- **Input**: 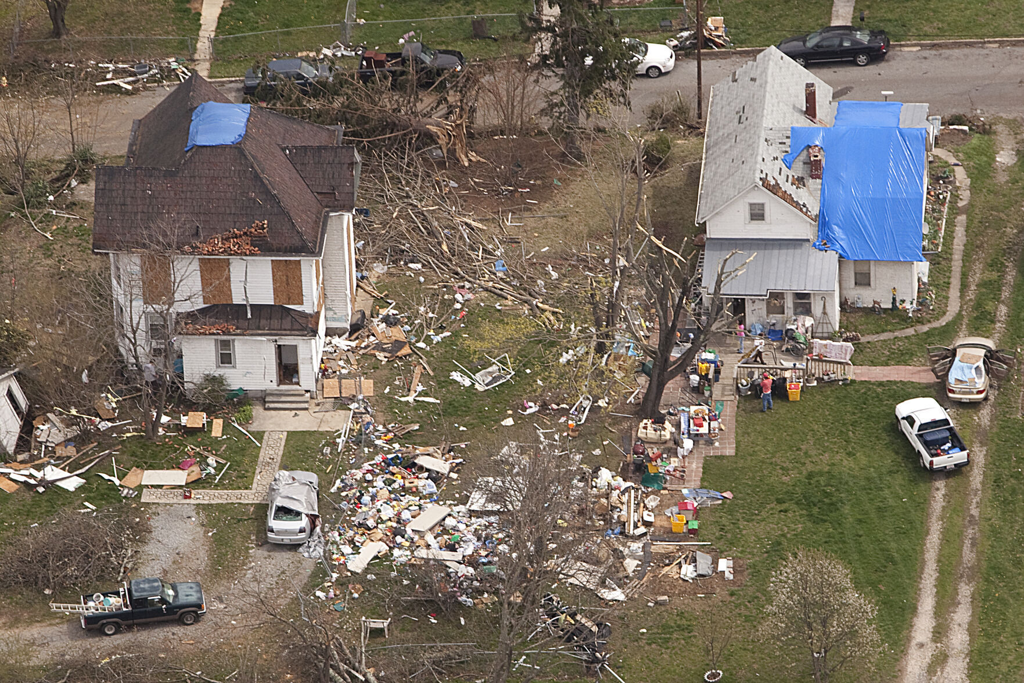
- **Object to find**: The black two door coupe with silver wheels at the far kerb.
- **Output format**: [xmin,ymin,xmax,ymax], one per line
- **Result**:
[777,23,894,67]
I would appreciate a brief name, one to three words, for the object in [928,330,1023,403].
car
